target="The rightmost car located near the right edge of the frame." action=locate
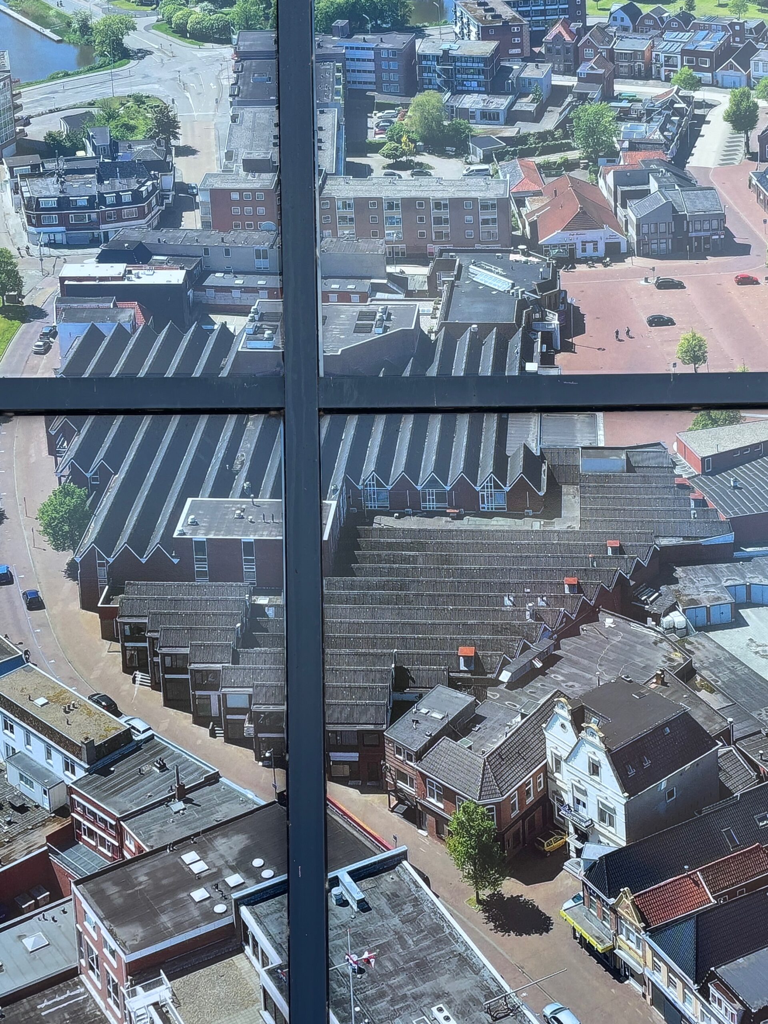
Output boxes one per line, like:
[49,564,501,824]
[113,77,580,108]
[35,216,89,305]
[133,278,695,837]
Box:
[734,272,762,285]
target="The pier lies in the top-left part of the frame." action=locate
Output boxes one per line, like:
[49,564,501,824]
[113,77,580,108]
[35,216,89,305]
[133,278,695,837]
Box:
[0,3,63,44]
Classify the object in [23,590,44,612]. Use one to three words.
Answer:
car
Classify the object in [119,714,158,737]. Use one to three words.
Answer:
car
